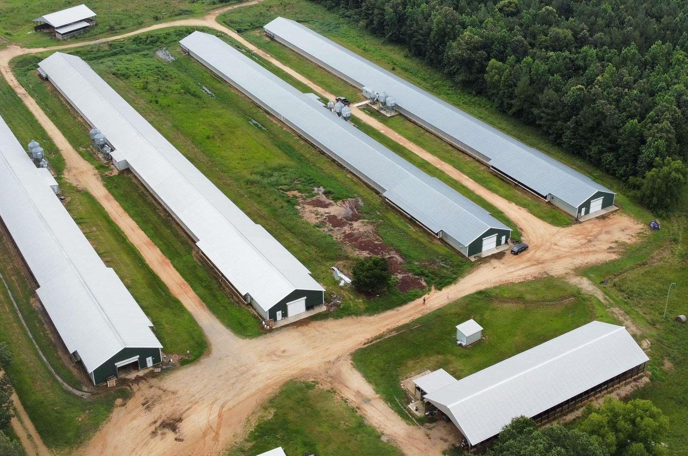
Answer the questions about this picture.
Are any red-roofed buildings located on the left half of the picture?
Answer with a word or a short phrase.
No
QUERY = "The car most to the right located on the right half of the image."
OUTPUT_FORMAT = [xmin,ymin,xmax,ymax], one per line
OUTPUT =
[512,242,533,254]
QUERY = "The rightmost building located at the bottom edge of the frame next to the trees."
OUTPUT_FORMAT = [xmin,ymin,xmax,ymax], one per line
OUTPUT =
[413,321,649,456]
